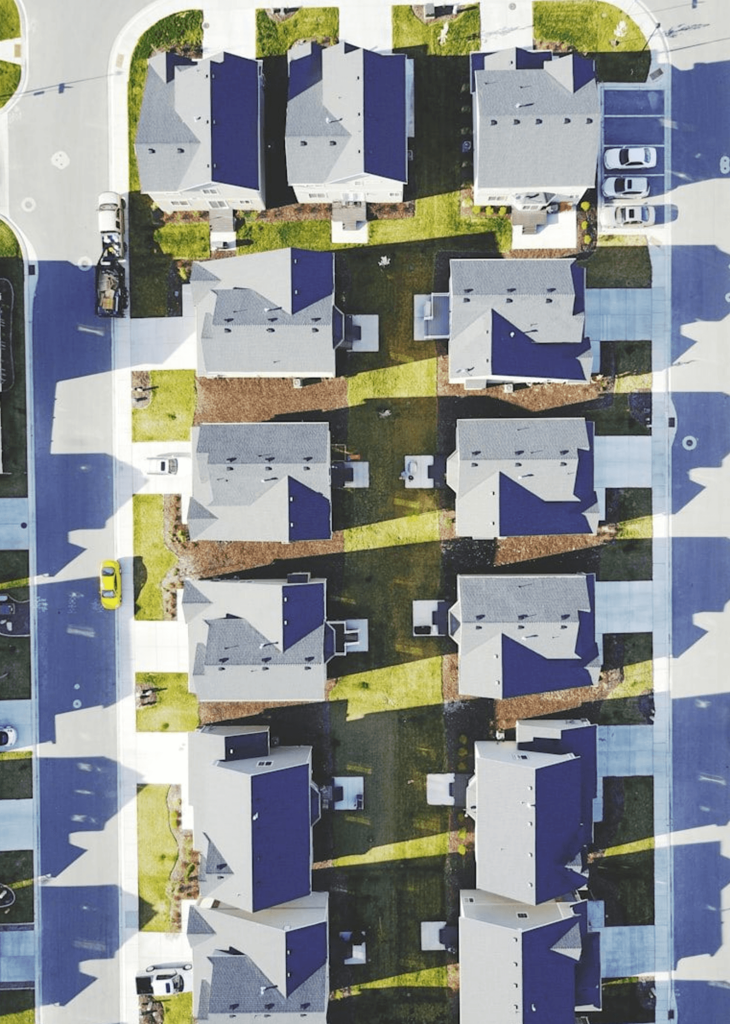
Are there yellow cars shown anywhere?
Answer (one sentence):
Yes, this view includes a yellow car.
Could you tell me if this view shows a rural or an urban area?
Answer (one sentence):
From above, the setting appears urban.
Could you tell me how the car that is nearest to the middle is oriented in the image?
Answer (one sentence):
Seen from above, the car that is nearest to the middle lies horizontally.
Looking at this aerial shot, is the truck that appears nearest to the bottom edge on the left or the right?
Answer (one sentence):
The truck that appears nearest to the bottom edge sits on the left side.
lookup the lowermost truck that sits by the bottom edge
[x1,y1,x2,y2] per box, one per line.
[128,966,191,999]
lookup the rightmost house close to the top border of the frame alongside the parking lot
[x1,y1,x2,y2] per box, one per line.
[470,47,601,210]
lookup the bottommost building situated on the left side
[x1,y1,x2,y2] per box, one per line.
[187,895,328,1024]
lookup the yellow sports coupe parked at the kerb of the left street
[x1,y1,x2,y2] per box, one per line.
[96,559,121,609]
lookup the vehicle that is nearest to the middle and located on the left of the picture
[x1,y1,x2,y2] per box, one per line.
[136,455,190,480]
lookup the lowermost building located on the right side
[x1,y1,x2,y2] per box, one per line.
[456,891,601,1024]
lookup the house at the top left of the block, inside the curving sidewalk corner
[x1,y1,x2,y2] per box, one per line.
[135,51,263,209]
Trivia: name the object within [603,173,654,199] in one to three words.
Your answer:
car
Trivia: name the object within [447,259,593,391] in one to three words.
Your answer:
house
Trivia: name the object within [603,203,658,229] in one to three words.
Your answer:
car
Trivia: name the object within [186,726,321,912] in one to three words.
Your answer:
house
